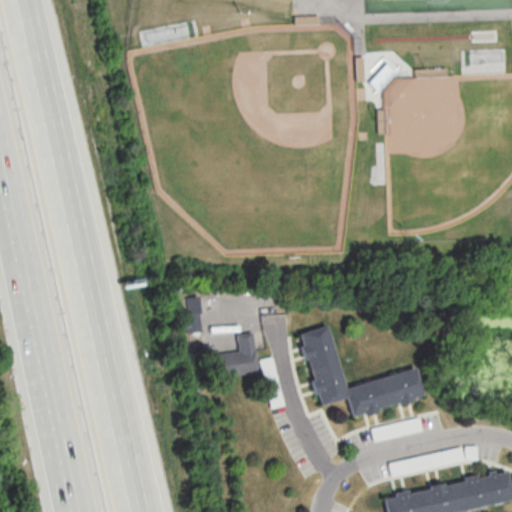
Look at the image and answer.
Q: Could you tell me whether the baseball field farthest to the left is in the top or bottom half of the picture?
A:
top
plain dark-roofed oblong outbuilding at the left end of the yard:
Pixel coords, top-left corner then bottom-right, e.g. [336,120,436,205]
[186,298,202,333]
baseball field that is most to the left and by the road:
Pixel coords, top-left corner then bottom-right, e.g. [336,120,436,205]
[127,22,357,256]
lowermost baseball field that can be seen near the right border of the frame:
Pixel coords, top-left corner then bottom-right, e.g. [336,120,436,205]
[384,74,512,236]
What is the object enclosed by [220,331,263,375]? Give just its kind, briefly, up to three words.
building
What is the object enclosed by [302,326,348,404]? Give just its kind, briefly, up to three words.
building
